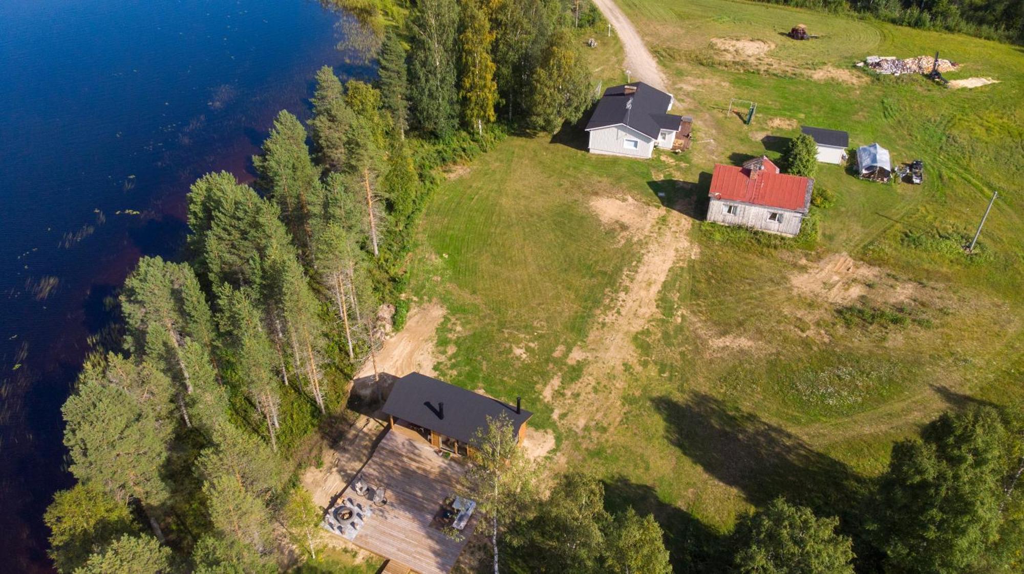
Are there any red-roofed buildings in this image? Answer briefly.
Yes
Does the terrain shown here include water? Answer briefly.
Yes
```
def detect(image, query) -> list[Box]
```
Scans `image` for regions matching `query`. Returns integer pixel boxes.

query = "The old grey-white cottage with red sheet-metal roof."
[707,154,814,236]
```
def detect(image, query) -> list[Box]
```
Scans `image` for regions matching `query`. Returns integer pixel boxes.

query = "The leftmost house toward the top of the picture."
[585,81,683,159]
